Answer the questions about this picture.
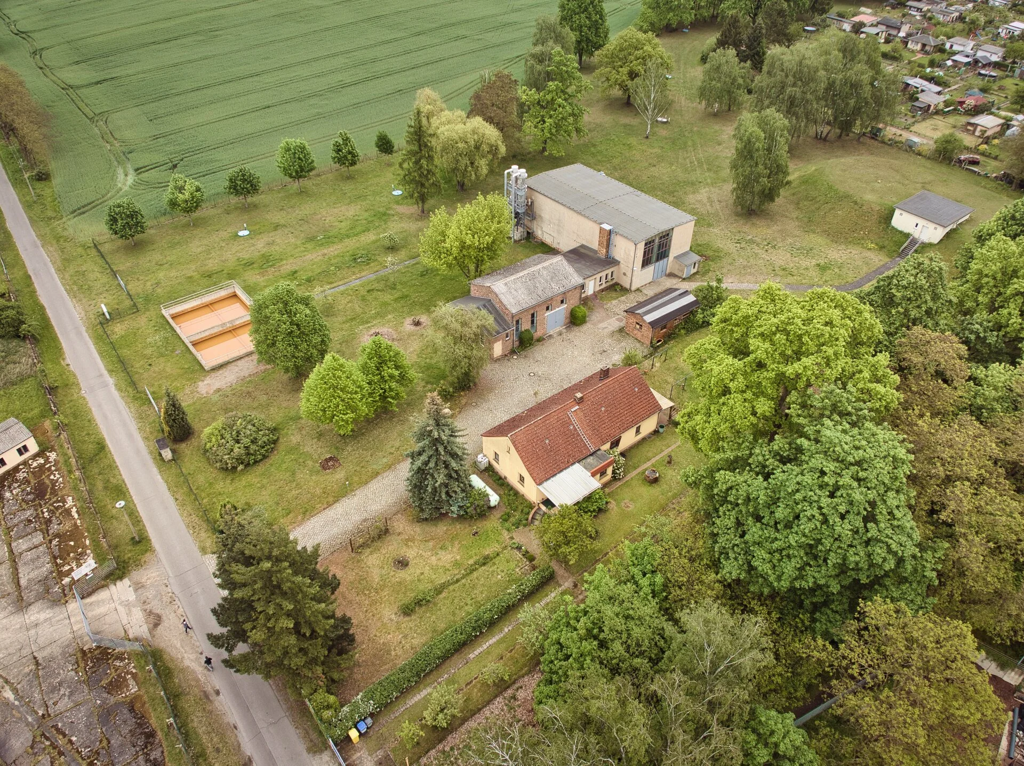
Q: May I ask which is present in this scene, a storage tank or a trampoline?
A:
storage tank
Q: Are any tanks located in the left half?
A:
Yes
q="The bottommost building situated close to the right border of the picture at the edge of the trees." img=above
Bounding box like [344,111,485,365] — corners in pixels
[891,191,977,246]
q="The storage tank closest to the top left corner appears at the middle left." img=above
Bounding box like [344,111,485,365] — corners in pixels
[161,279,261,371]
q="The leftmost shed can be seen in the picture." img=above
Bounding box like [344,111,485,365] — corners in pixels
[0,407,40,469]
